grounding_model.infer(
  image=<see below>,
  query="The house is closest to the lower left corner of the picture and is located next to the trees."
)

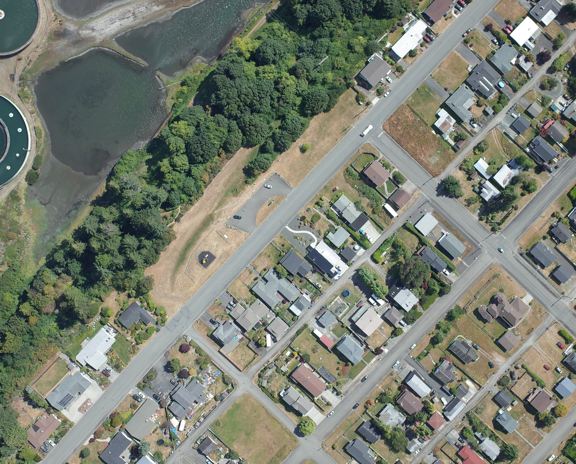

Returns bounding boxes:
[27,413,62,448]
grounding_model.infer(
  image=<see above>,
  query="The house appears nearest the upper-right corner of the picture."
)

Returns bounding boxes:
[526,0,560,25]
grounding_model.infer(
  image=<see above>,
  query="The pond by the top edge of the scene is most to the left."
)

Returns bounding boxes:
[42,0,255,174]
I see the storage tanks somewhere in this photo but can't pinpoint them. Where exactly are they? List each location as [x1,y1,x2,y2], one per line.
[0,93,33,188]
[0,0,44,58]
